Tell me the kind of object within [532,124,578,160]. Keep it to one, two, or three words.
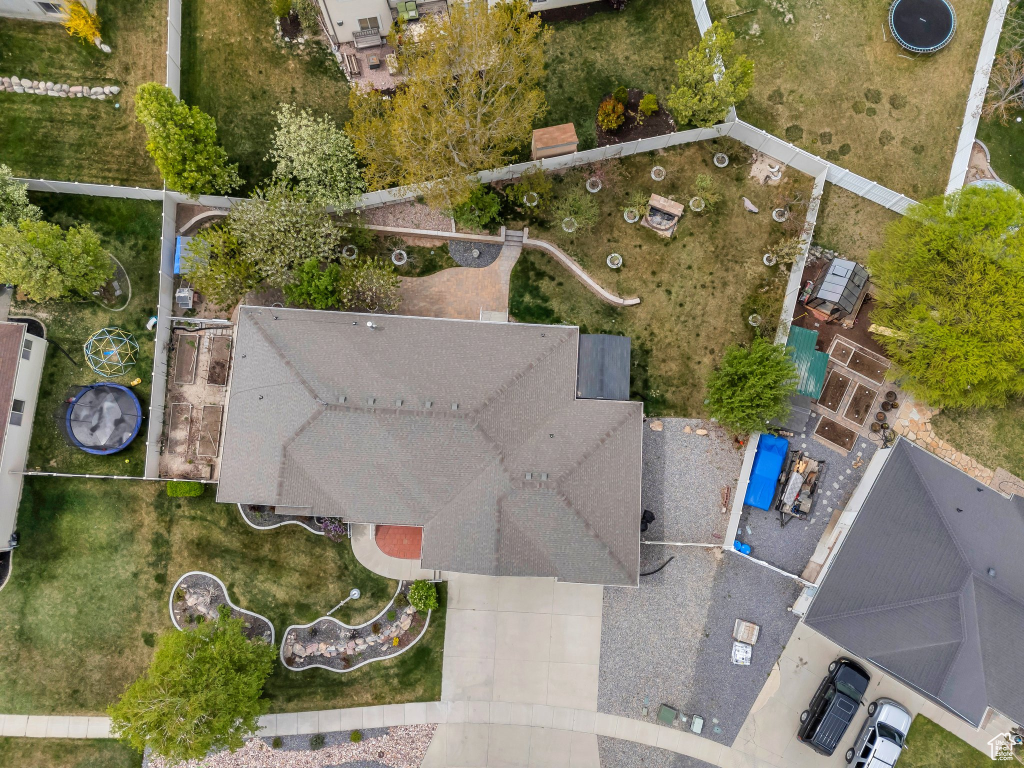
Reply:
shed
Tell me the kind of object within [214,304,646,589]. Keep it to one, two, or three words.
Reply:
house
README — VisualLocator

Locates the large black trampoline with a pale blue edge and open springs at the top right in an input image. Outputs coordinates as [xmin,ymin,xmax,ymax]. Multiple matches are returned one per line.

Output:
[885,0,953,60]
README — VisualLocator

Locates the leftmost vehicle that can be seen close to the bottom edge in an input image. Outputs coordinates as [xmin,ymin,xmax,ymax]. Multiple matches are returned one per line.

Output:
[800,657,874,758]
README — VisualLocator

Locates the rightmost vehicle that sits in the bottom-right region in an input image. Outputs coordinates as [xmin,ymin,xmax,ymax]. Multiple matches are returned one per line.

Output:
[847,698,915,768]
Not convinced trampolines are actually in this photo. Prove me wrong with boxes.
[51,378,150,458]
[885,0,953,60]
